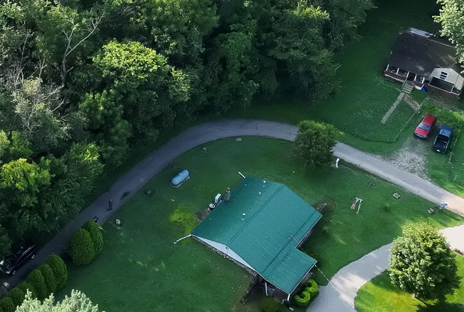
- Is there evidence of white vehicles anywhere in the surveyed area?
No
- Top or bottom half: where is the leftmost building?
bottom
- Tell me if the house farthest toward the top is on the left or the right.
right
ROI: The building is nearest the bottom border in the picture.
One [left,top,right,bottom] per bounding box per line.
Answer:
[178,177,325,302]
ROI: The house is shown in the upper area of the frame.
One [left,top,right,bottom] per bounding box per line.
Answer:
[386,28,464,100]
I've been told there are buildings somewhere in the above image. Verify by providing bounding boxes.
[178,177,325,302]
[386,28,464,100]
